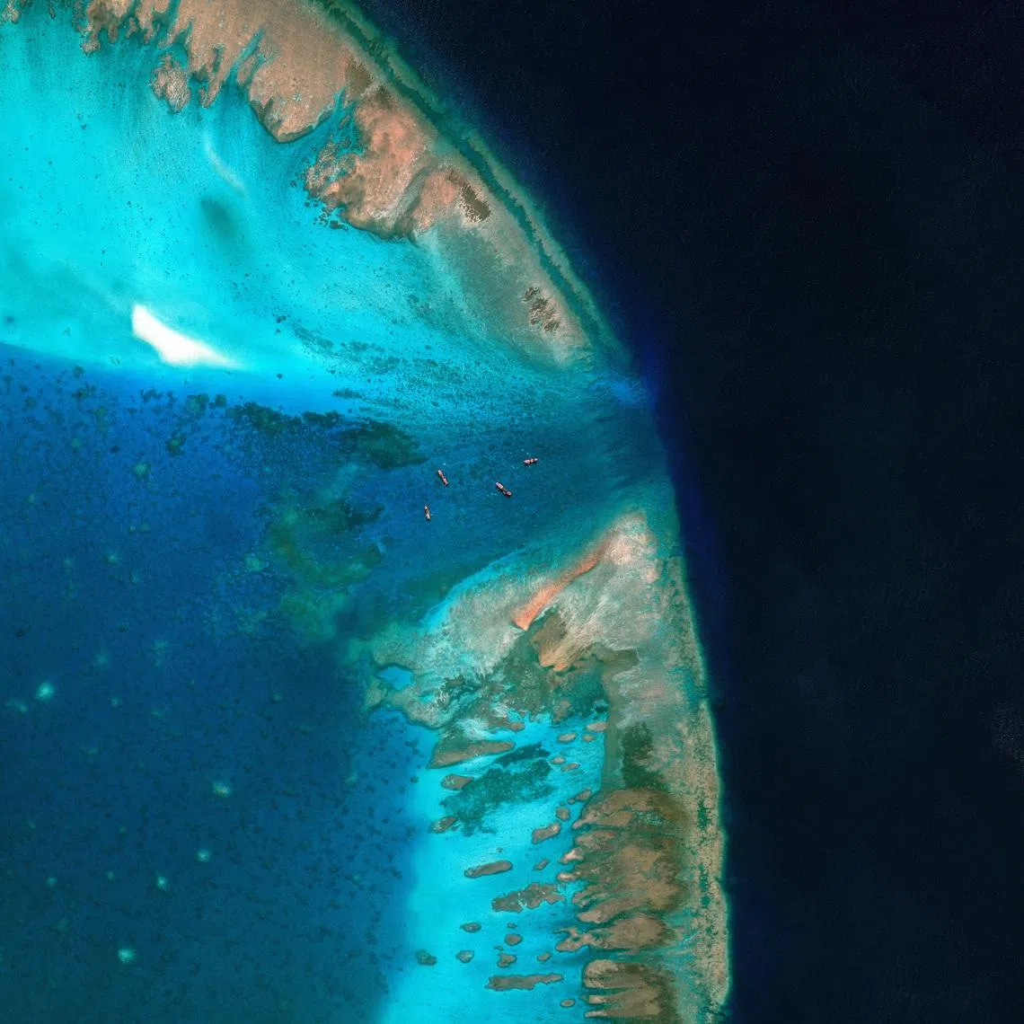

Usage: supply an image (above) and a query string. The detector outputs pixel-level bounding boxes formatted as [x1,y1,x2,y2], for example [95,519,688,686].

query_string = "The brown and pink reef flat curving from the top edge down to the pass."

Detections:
[0,0,647,393]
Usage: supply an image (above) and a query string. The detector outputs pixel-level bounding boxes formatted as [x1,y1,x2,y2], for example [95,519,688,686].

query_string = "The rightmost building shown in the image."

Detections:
[360,498,735,1024]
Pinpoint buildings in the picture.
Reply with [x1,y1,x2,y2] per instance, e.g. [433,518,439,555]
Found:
[360,498,735,1024]
[0,0,647,393]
